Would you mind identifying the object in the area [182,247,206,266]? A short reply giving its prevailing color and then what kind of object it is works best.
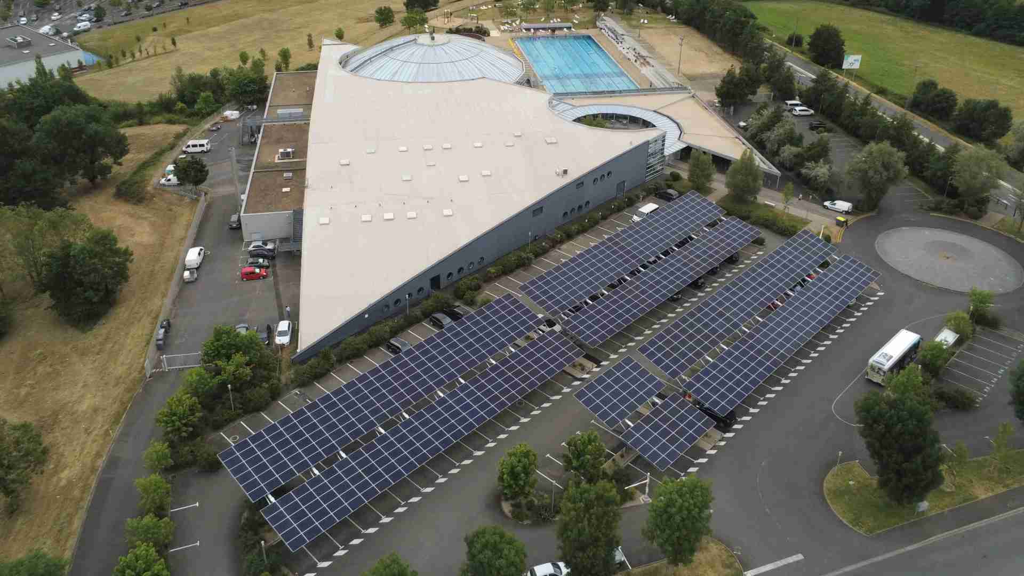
white vehicle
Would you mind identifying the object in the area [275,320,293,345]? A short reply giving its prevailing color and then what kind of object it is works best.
white car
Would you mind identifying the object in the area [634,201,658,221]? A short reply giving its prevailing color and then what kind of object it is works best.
white vehicle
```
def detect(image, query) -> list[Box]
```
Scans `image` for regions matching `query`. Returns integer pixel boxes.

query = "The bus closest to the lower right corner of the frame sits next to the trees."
[863,328,920,386]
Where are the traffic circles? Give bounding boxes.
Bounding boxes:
[879,226,1021,293]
